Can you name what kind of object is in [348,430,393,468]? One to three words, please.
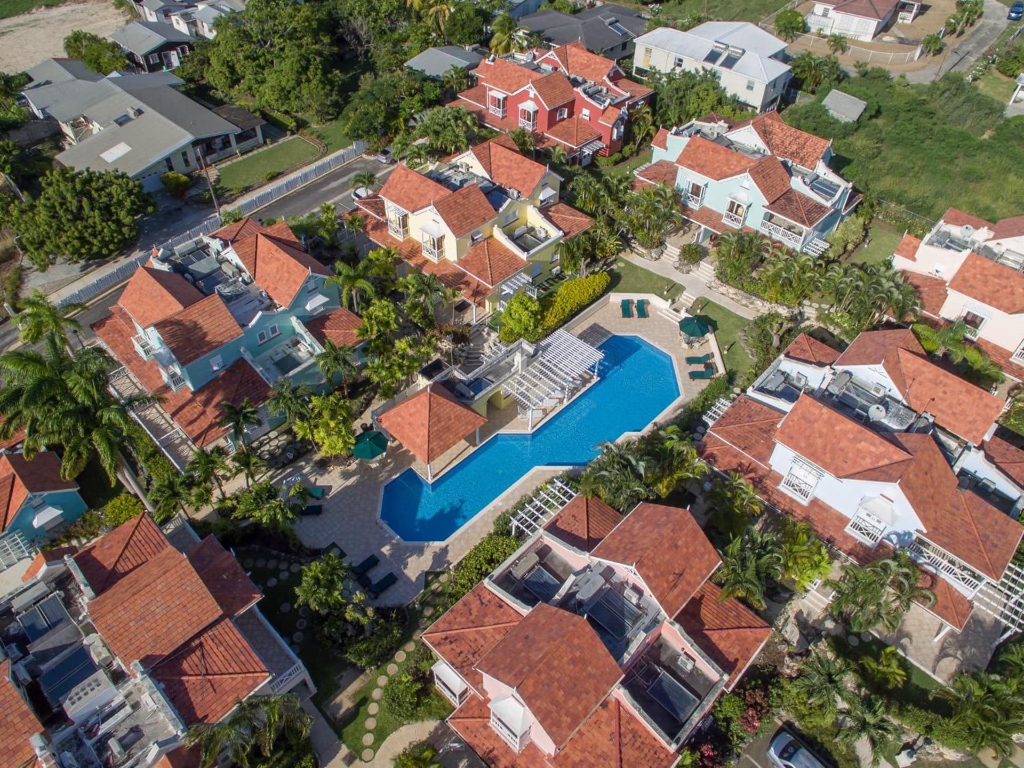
umbrella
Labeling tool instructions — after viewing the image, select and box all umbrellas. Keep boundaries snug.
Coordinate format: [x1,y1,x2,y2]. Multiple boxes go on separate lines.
[348,430,393,468]
[675,314,712,347]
